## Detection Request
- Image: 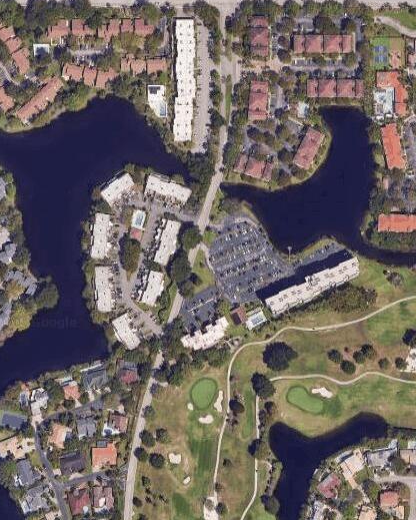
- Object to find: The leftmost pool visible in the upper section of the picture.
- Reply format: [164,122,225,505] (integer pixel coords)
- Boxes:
[34,44,50,58]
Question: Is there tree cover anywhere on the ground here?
Yes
